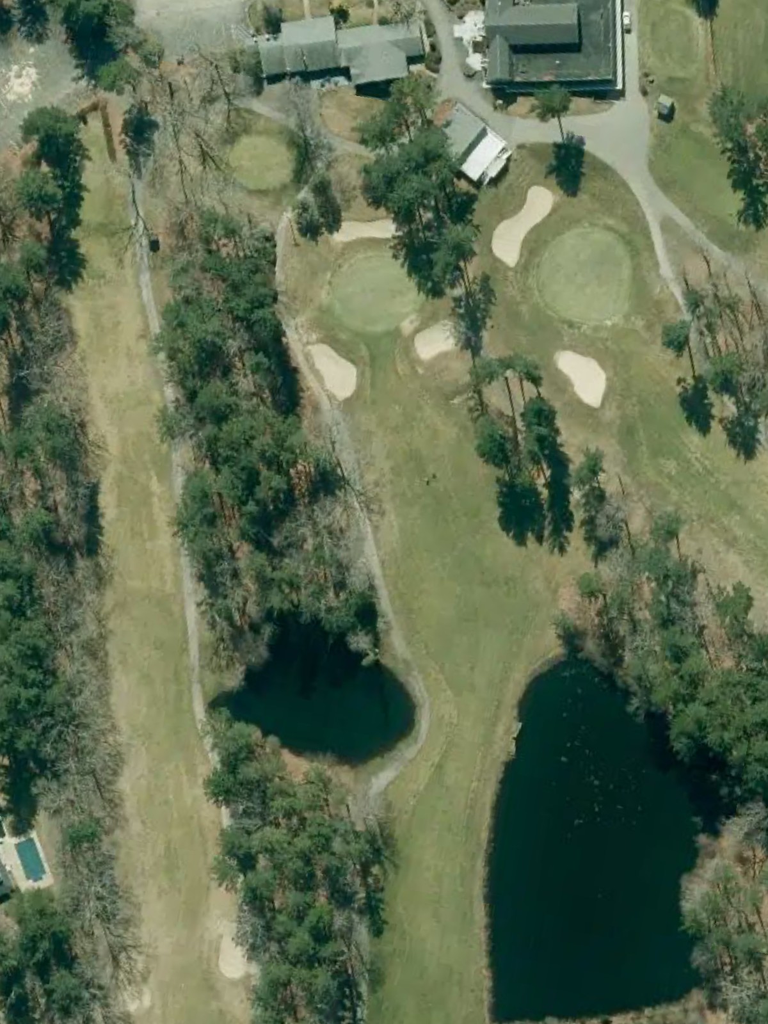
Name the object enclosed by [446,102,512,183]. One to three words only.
building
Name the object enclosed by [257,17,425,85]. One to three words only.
house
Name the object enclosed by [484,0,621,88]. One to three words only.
building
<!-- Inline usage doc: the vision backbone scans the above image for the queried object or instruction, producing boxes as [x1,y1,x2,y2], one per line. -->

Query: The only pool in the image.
[0,831,53,892]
